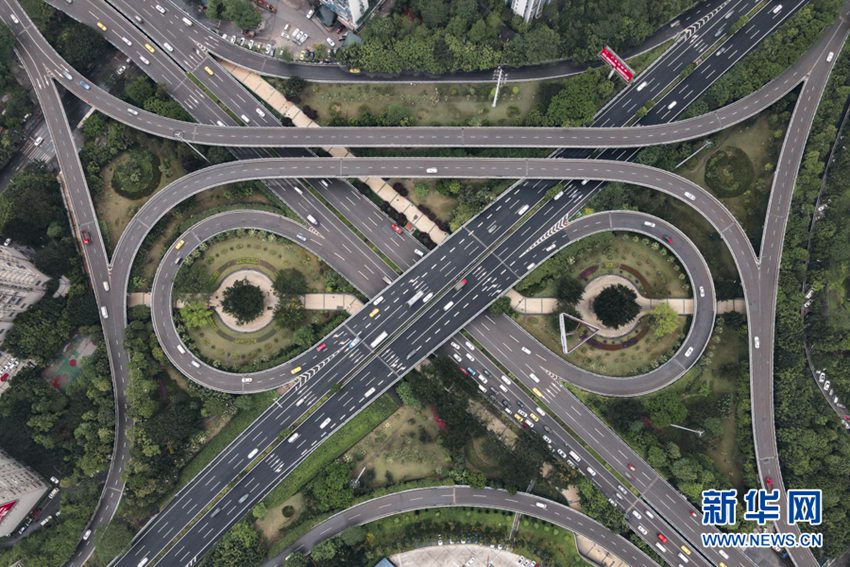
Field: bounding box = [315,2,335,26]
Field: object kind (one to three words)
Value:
building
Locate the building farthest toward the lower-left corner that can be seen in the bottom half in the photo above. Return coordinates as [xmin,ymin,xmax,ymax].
[0,455,47,548]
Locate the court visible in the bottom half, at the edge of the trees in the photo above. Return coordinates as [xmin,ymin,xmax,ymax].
[43,335,95,392]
